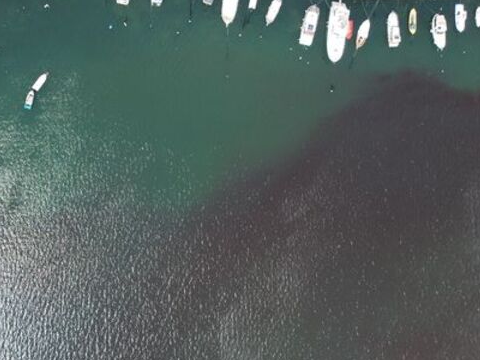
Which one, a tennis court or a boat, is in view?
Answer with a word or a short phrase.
boat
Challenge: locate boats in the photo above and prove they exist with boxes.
[325,0,350,62]
[474,3,480,29]
[453,0,468,32]
[221,0,240,26]
[352,0,378,60]
[243,0,259,28]
[33,70,49,92]
[266,0,283,28]
[24,90,36,110]
[385,0,402,47]
[431,9,449,52]
[408,8,417,36]
[297,0,321,47]
[348,21,354,40]
[202,0,215,7]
